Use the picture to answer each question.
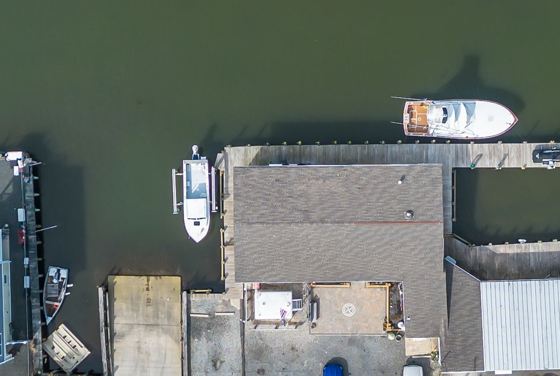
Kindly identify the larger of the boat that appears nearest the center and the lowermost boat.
the boat that appears nearest the center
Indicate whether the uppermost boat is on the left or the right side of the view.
right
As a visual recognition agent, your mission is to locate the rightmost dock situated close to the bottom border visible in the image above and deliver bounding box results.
[45,324,91,370]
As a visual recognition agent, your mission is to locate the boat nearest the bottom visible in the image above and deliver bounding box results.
[44,264,73,321]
